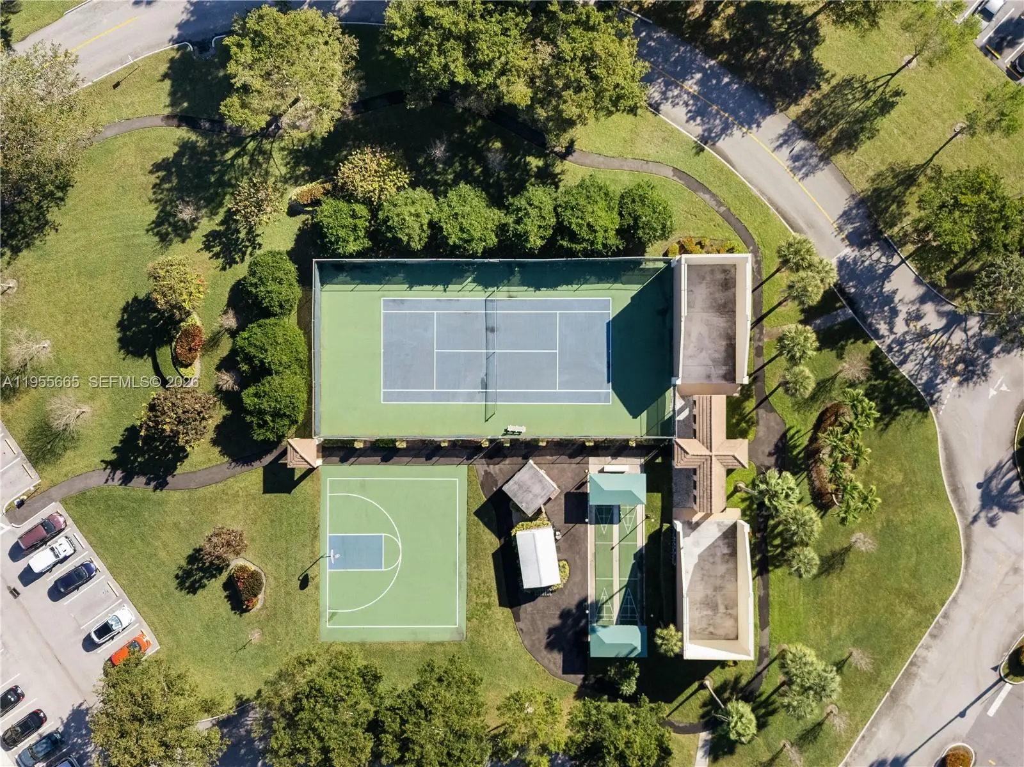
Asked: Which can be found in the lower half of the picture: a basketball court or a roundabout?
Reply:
basketball court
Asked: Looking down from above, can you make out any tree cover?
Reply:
Yes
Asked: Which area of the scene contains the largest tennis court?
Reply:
center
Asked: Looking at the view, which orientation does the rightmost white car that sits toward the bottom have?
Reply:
diagonally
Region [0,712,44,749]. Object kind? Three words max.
car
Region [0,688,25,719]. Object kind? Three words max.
car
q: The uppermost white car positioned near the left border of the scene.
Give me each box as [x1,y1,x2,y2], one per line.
[22,537,74,577]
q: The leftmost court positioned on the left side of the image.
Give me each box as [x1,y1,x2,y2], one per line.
[321,466,467,641]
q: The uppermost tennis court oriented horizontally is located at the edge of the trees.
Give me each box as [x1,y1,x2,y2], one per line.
[321,263,672,436]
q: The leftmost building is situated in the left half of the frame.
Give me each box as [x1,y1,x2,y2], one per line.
[289,438,325,468]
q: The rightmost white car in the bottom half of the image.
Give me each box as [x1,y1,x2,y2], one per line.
[87,608,133,647]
